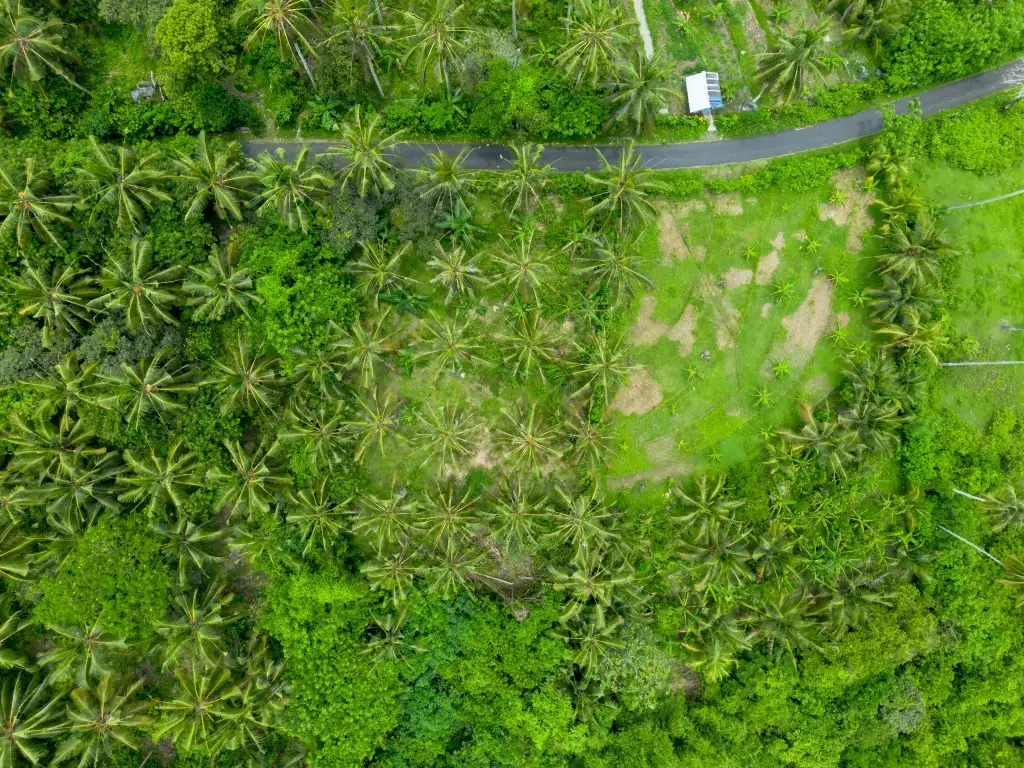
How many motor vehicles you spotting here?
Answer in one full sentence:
The count of motor vehicles is 0.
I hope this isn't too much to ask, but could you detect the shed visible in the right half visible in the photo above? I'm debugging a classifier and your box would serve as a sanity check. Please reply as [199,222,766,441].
[688,67,726,112]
